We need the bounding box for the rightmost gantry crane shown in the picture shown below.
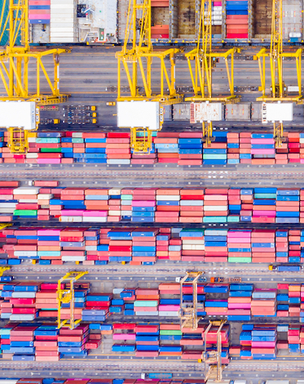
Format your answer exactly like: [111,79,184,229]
[254,0,304,150]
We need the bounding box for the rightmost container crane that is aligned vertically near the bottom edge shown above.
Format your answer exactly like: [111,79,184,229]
[202,317,229,383]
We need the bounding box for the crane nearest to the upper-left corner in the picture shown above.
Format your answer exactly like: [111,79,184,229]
[0,0,70,155]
